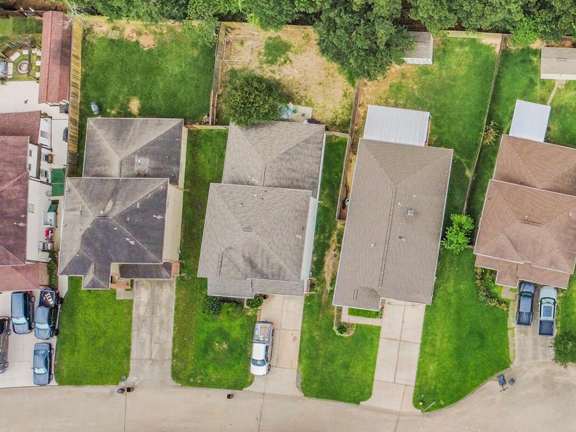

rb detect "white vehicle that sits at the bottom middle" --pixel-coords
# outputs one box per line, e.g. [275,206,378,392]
[250,321,274,375]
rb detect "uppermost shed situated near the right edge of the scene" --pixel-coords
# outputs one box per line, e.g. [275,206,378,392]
[541,47,576,76]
